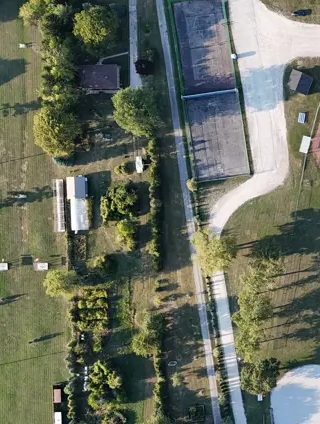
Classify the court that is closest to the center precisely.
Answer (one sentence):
The court that is closest to the center can be classified as a tennis court.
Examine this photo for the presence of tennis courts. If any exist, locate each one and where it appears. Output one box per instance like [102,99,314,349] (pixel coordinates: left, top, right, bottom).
[174,0,236,94]
[184,91,249,180]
